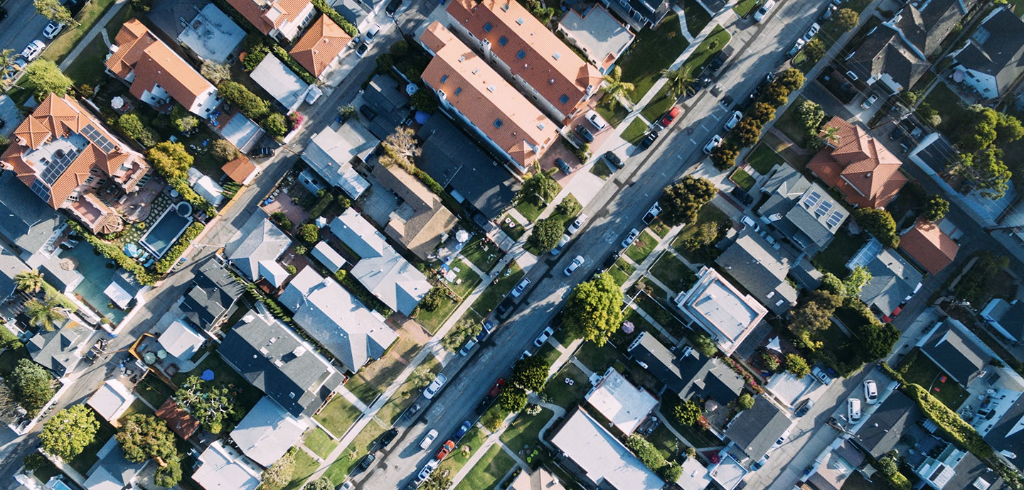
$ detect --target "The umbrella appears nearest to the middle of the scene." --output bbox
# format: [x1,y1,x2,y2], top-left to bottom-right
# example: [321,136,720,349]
[455,229,470,243]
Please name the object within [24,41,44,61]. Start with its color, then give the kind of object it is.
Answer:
white car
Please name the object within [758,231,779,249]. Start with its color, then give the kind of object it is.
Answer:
blue car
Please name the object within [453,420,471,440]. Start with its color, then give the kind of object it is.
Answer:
blue car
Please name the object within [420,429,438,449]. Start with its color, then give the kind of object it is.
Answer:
white car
